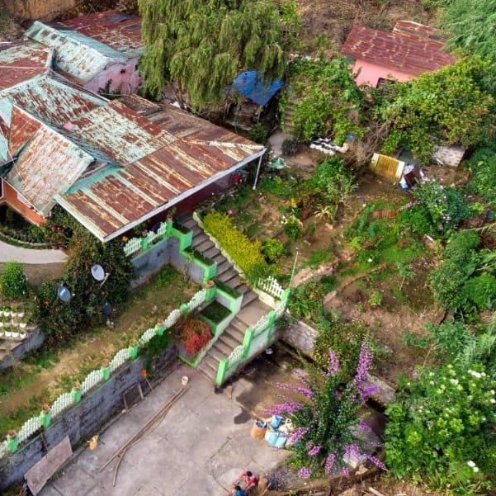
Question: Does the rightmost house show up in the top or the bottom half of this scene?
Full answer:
You can find the rightmost house in the top half.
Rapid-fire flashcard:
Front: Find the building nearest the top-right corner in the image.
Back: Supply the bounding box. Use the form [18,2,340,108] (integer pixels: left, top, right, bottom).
[339,20,451,86]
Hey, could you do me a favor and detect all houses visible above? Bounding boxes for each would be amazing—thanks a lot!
[339,20,451,86]
[0,46,266,258]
